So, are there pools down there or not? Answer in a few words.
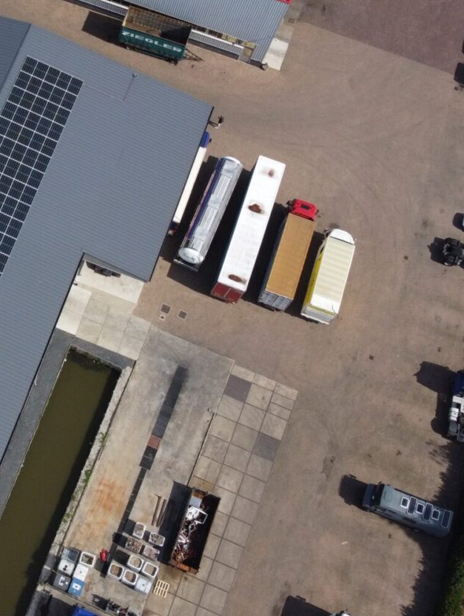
No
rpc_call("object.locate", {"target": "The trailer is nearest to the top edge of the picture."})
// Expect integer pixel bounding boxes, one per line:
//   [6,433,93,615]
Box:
[119,7,208,59]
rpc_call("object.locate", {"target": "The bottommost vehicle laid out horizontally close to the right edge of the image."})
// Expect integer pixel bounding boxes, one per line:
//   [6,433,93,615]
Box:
[361,481,461,530]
